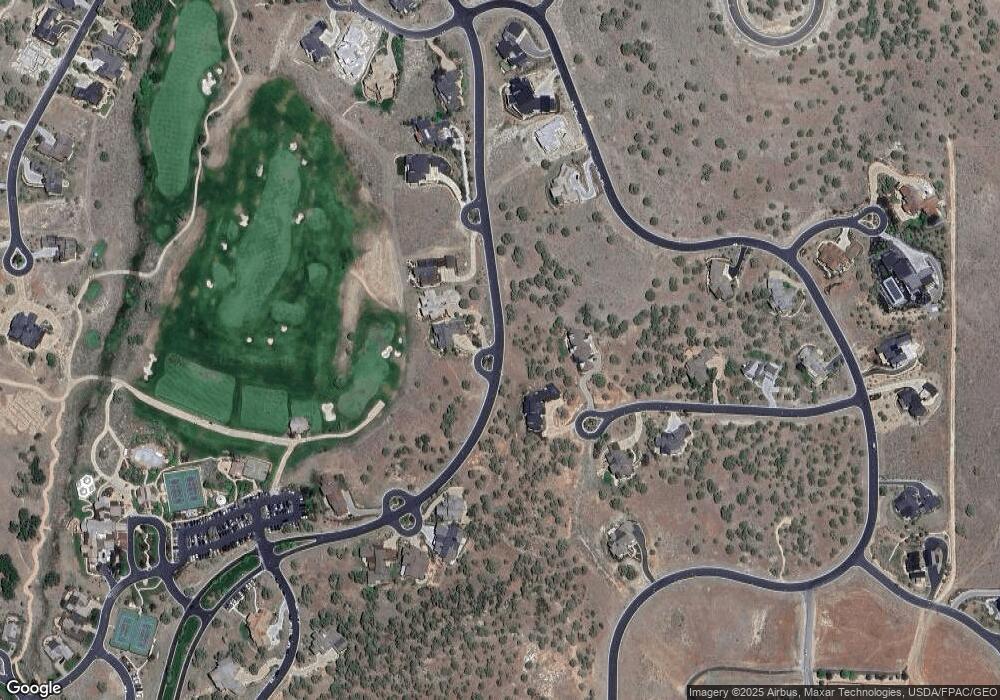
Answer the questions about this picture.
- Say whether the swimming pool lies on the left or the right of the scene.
left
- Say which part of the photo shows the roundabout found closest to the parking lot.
bottom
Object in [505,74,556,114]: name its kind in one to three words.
house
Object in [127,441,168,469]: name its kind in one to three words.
swimming pool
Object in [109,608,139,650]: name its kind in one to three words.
tennis court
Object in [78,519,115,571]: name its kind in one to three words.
building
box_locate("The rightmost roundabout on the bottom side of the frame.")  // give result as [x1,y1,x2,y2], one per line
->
[575,408,606,439]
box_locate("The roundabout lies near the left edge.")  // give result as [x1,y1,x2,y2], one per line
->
[3,243,33,276]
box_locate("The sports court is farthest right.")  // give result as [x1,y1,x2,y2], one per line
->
[243,458,271,481]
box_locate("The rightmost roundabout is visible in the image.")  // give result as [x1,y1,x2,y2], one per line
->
[856,206,889,236]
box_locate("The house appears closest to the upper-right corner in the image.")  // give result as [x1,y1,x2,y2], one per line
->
[898,183,942,218]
